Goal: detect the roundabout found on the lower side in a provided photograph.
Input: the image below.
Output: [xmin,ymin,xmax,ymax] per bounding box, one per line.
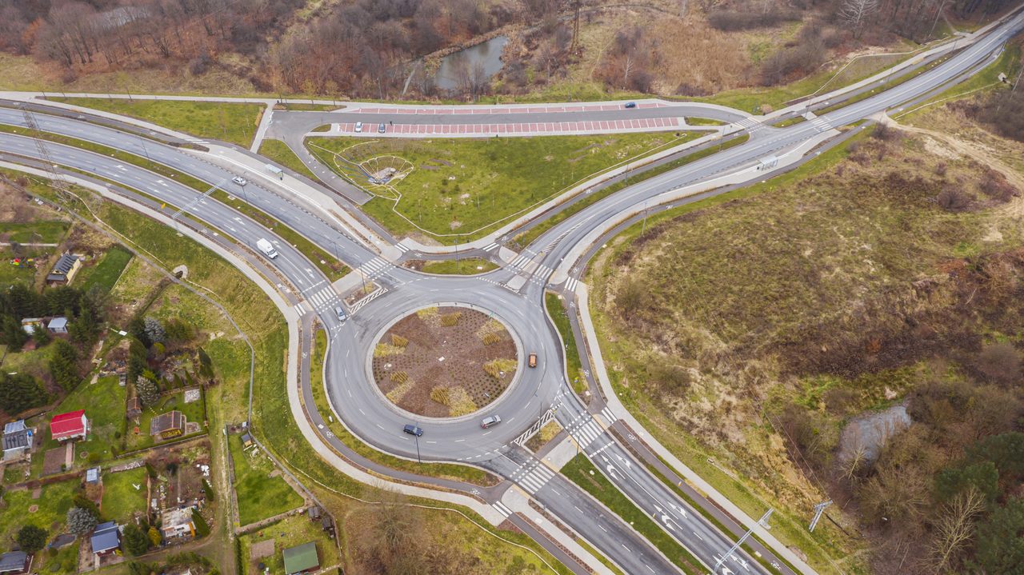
[328,279,560,457]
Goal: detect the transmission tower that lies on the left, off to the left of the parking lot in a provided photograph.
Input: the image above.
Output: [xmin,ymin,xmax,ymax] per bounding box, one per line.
[10,110,71,201]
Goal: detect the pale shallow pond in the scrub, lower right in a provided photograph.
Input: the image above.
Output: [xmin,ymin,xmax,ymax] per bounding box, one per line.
[829,404,915,475]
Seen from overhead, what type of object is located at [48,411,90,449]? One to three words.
house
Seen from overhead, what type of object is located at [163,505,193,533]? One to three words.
shed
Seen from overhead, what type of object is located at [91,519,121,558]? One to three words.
house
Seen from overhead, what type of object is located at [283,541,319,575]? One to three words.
building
